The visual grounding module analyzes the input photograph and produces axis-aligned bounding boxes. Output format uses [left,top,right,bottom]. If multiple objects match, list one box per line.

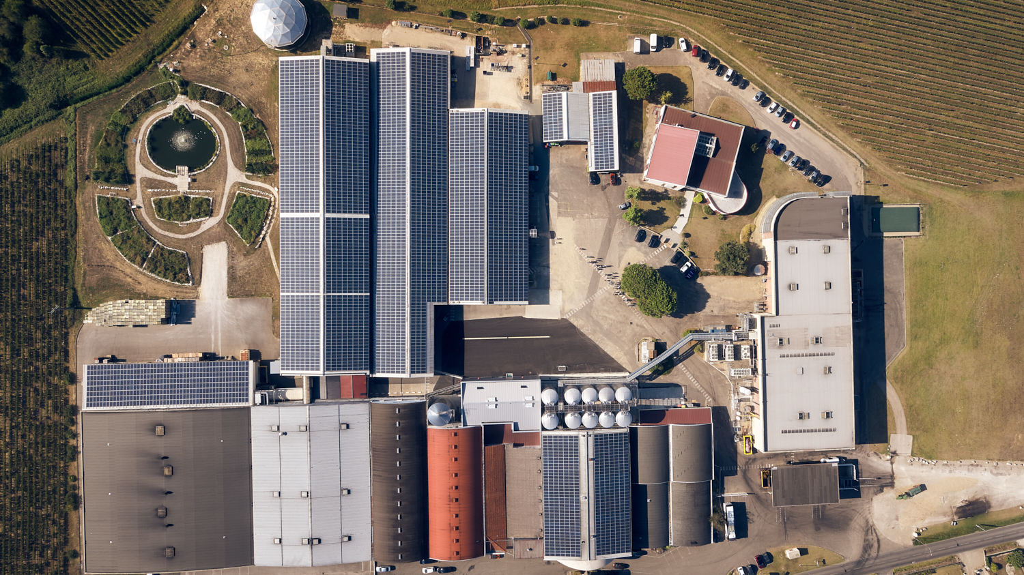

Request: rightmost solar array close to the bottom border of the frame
[595,433,630,555]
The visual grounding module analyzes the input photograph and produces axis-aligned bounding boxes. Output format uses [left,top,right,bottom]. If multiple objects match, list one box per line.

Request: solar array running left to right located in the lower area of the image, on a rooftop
[86,362,249,406]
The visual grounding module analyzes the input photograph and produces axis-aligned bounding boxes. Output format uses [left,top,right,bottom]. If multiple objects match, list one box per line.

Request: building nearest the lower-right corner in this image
[838,461,858,491]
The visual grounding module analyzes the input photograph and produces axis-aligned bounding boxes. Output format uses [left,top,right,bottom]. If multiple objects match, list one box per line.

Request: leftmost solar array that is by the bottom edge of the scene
[543,435,580,556]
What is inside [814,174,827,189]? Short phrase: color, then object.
black vehicle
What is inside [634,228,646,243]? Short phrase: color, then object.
black vehicle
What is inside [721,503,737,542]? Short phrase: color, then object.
white vehicle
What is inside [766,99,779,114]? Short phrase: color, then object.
white vehicle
